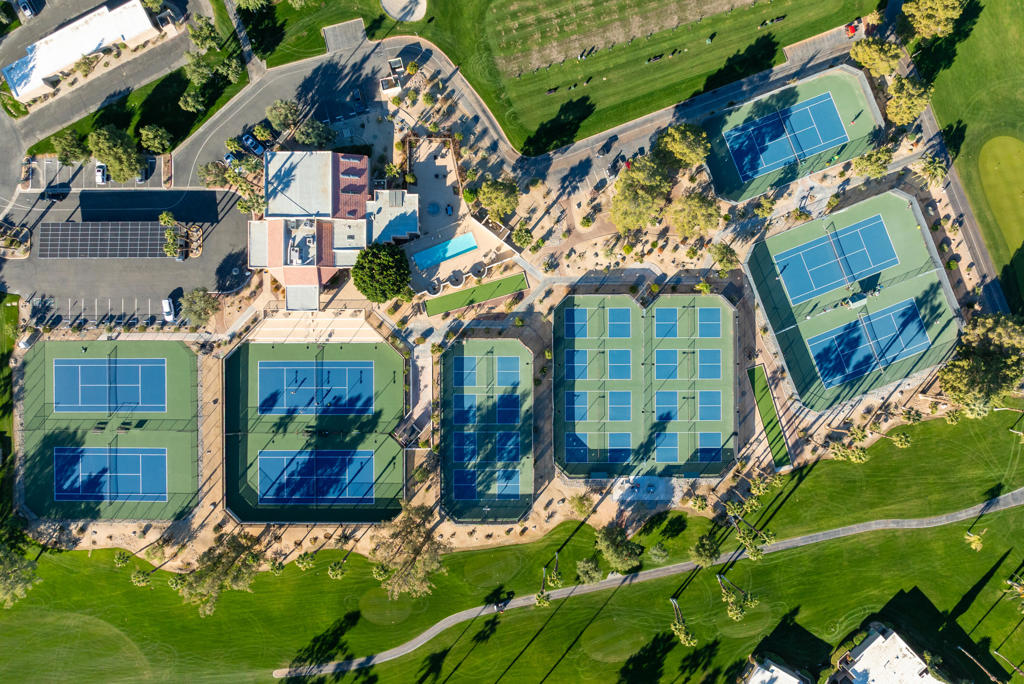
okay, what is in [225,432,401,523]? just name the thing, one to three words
tennis court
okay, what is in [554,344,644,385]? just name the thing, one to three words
sports court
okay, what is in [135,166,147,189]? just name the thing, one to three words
vehicle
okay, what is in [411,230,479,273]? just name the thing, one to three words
swimming pool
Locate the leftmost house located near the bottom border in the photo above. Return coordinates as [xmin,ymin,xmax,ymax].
[739,653,807,684]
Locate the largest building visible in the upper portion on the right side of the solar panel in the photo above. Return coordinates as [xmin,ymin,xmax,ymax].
[247,150,421,311]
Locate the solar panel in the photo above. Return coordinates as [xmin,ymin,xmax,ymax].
[41,223,178,257]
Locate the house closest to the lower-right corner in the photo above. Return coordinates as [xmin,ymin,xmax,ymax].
[838,625,946,684]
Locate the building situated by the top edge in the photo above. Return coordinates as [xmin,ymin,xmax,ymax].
[1,0,167,104]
